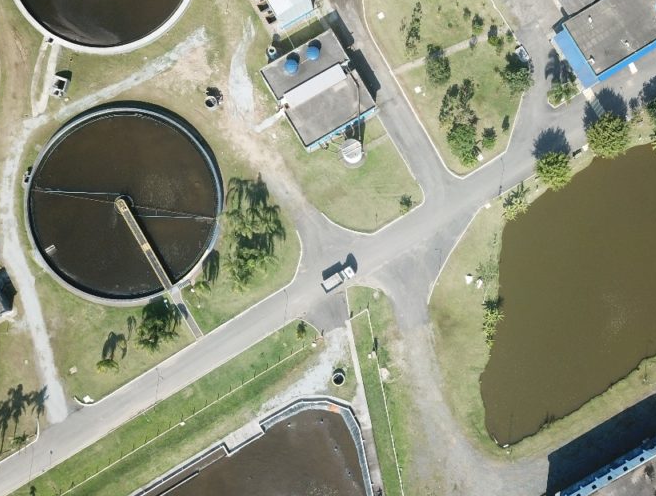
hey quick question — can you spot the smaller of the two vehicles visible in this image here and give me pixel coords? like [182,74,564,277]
[512,43,529,64]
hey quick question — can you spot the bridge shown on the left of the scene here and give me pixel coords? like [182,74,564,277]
[116,196,175,292]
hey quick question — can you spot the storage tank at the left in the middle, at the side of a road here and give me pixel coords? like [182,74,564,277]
[20,106,226,305]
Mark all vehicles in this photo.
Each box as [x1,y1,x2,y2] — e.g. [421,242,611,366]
[323,264,359,292]
[512,43,529,64]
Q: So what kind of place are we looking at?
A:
industrial area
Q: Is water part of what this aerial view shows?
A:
Yes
